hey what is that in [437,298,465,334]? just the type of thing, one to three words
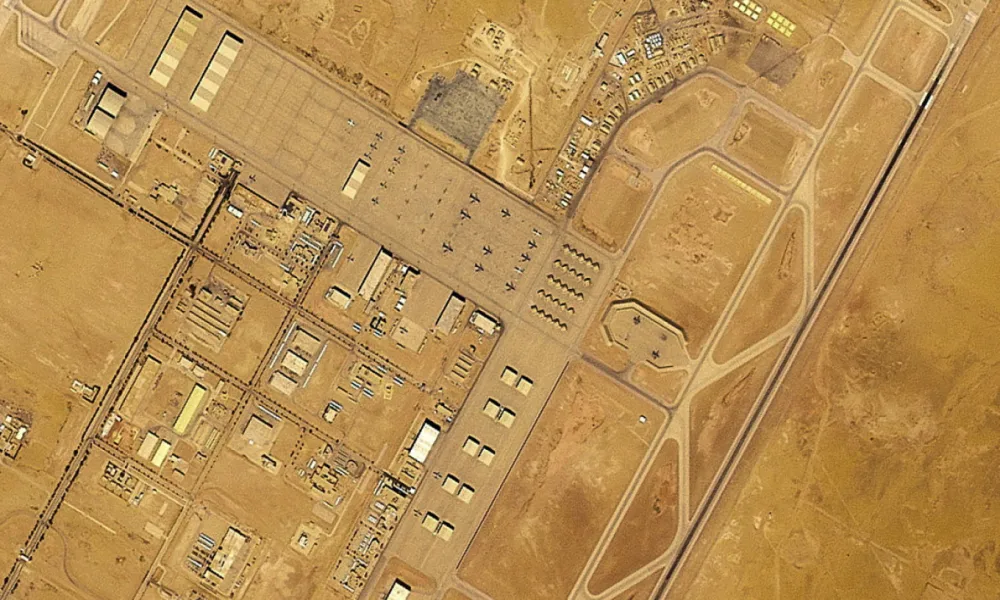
hangar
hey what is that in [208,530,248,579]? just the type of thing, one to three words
building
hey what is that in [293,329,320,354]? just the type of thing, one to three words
building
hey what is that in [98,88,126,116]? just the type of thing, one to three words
hangar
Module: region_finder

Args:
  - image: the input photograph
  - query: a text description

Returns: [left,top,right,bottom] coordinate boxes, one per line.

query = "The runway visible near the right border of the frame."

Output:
[648,0,989,600]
